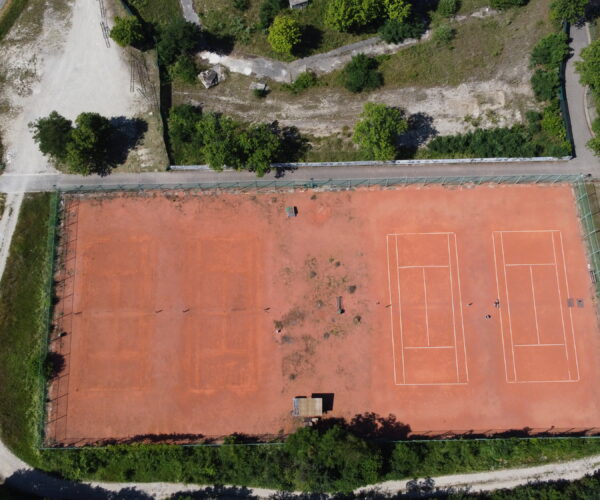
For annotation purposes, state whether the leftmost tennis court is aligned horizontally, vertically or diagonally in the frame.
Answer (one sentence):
The leftmost tennis court has been laid out vertically relative to the frame.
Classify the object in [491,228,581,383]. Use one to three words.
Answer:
tennis court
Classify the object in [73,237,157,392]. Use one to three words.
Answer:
tennis court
